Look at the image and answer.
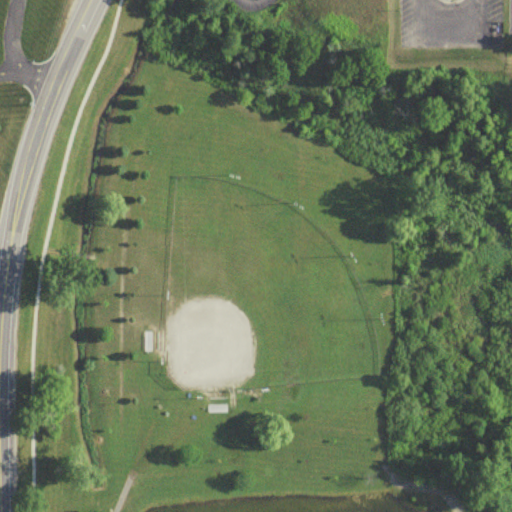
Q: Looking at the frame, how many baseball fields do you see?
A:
1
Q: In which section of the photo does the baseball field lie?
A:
center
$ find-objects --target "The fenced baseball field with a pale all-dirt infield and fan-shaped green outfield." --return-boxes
[164,178,378,394]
